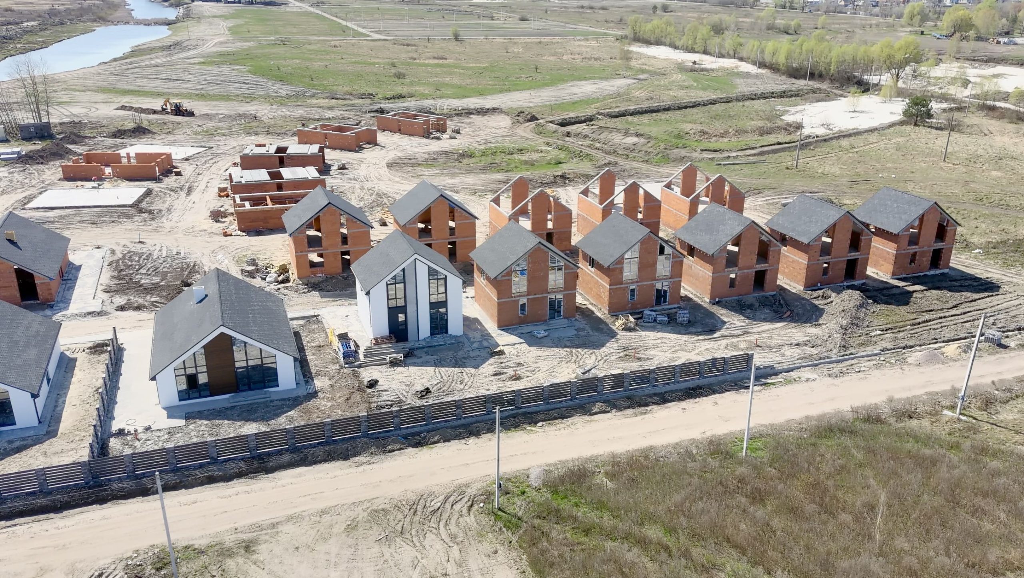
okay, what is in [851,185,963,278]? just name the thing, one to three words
house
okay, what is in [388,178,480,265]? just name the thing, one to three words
house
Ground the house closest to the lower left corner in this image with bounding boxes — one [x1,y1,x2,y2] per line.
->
[0,299,76,444]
